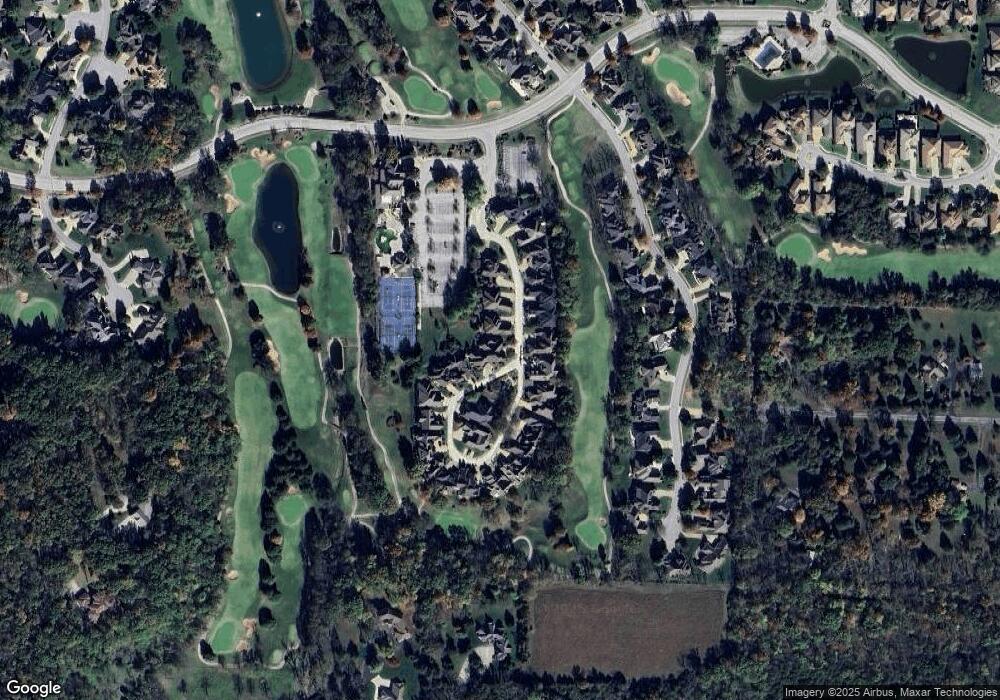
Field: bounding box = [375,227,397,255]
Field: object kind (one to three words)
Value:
swimming pool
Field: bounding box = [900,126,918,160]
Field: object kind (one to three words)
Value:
house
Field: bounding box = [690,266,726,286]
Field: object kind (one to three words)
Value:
house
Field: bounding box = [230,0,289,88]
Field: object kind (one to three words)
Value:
pond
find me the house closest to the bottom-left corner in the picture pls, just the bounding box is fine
[76,590,115,618]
